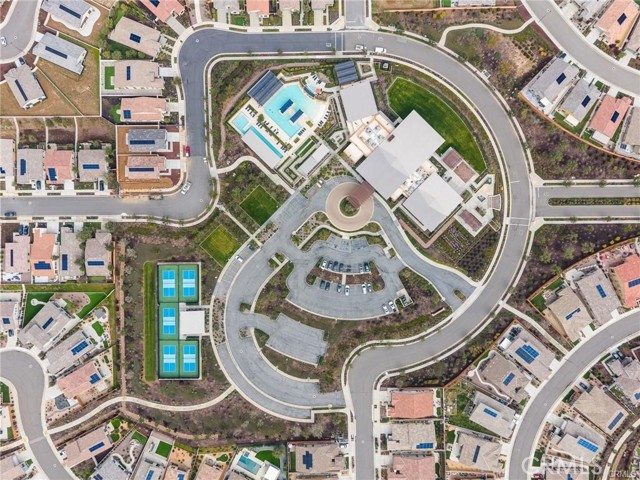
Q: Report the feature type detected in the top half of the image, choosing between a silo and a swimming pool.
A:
swimming pool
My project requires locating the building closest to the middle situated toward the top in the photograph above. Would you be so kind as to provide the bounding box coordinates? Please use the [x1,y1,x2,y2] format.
[298,142,332,177]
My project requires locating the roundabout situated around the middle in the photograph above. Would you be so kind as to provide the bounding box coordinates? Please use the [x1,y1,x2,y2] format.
[325,182,374,231]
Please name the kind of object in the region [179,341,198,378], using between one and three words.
sports court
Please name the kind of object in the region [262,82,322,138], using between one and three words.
swimming pool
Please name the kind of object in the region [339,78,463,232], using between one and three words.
building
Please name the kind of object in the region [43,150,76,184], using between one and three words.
house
